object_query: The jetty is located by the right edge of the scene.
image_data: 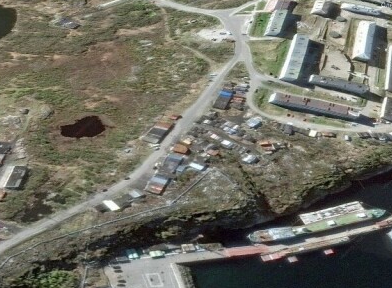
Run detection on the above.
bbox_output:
[267,219,392,254]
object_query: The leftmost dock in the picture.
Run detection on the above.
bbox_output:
[179,249,228,265]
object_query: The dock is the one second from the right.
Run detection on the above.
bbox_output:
[226,244,268,258]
